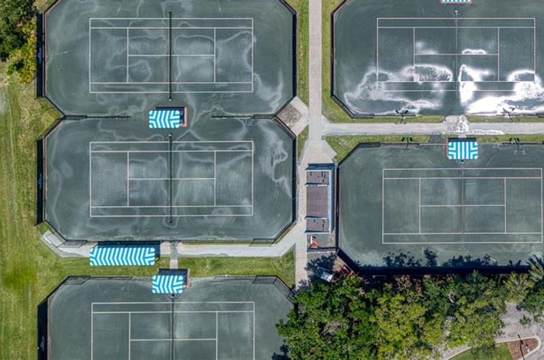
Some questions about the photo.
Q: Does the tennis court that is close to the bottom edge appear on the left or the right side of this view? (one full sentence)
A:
The tennis court that is close to the bottom edge sits on the left side.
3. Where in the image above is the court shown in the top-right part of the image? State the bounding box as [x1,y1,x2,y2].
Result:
[332,0,544,116]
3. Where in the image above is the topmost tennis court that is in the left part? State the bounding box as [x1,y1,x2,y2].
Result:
[45,0,293,117]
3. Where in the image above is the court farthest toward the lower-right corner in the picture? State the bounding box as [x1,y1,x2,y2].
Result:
[338,143,544,271]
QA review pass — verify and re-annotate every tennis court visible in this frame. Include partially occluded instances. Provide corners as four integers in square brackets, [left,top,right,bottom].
[45,117,293,242]
[46,277,294,360]
[338,143,544,271]
[332,0,544,116]
[45,0,293,117]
